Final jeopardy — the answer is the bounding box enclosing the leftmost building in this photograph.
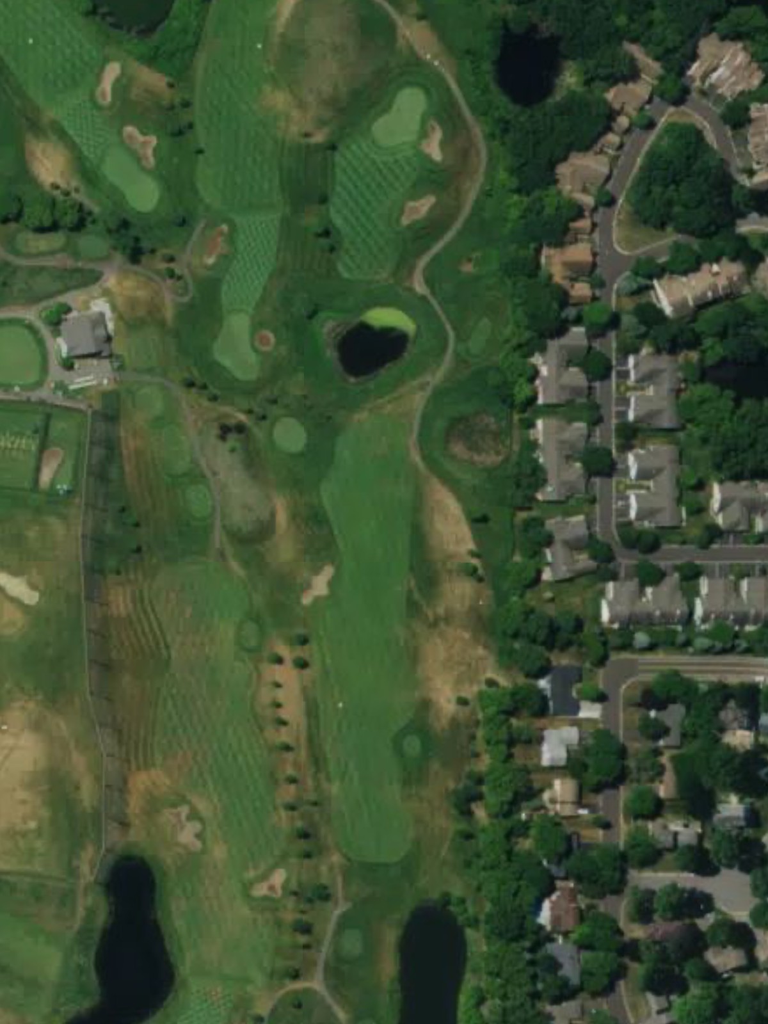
[58,300,114,357]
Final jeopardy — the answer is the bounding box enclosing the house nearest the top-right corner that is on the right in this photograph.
[682,29,768,97]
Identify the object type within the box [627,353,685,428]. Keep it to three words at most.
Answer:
house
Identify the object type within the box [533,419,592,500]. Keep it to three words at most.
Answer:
house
